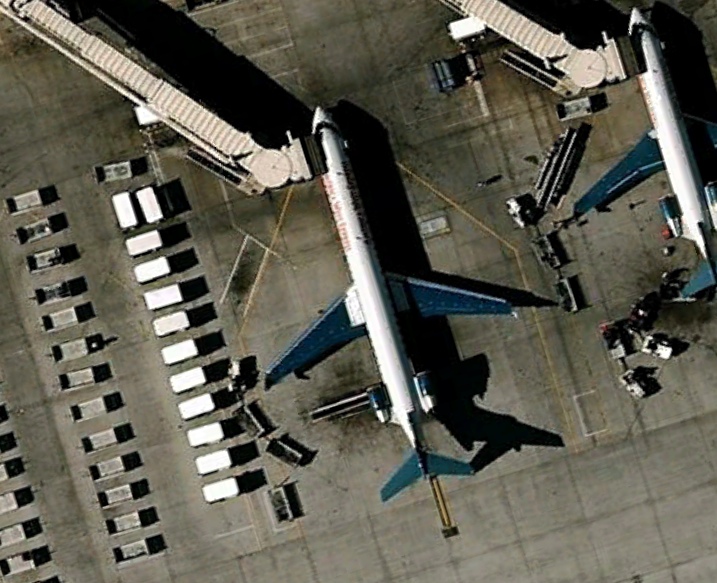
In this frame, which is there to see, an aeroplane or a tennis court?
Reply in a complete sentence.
The one in the frame is an aeroplane.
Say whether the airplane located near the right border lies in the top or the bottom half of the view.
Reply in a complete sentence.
The top half of the photo is where the airplane located near the right border is.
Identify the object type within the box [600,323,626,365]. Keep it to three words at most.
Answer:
truck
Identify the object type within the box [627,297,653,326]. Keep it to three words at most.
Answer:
work vehicle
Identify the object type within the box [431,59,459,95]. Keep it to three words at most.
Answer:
work vehicle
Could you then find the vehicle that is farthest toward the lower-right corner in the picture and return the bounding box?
[621,368,650,395]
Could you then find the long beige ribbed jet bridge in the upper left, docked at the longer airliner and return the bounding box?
[0,0,326,195]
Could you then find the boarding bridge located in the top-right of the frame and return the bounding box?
[453,0,645,96]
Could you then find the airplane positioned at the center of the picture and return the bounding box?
[263,107,515,502]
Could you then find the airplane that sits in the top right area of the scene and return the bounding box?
[572,8,717,303]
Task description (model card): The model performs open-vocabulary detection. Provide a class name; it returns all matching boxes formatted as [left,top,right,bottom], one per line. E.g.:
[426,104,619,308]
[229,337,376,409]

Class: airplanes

[572,8,717,303]
[263,107,515,502]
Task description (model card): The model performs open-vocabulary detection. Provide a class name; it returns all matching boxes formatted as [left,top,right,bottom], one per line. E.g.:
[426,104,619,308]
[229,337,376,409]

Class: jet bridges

[0,0,326,195]
[453,0,645,96]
